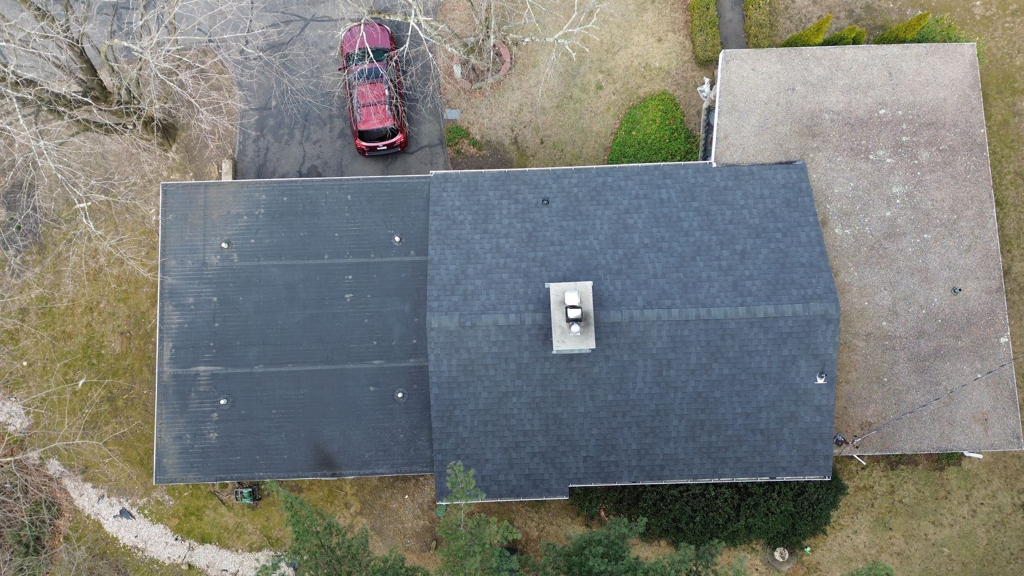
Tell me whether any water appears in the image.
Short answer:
No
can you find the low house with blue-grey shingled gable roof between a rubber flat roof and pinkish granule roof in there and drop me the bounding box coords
[154,43,1024,506]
